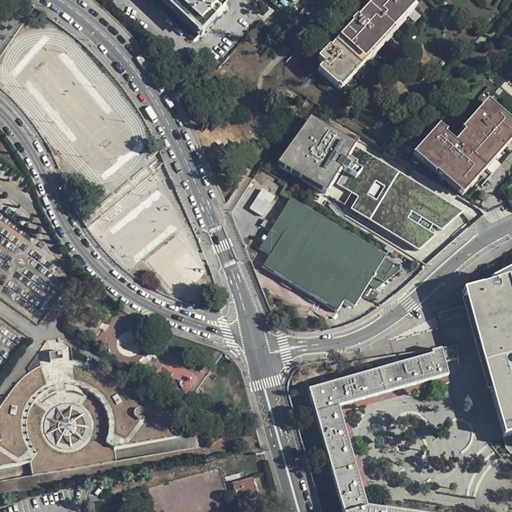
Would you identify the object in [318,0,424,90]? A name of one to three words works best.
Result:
building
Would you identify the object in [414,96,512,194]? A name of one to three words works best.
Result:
building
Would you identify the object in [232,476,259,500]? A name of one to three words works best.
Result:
house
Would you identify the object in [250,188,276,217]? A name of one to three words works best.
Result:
shed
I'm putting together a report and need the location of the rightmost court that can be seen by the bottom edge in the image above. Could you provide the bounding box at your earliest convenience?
[149,468,227,512]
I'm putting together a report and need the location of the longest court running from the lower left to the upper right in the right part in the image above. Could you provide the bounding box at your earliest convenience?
[369,259,402,290]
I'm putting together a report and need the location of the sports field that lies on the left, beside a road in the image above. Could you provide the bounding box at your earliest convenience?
[1,32,147,183]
